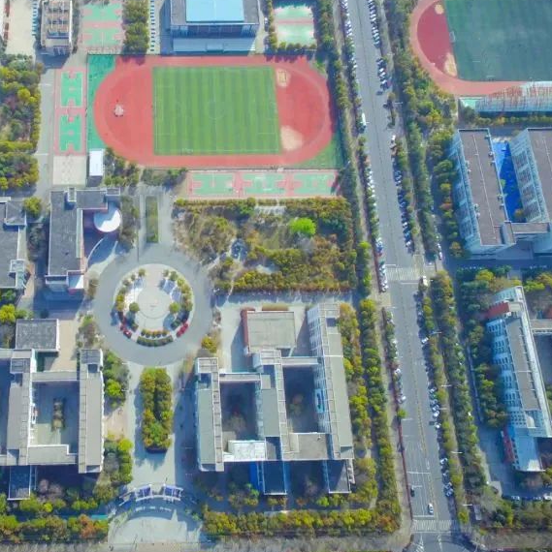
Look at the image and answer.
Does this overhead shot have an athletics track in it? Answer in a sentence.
Yes, the picture does show an athletics track.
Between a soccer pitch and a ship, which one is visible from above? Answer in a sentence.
It is a soccer pitch that can be seen here.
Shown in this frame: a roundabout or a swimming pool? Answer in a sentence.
Of the two, only a roundabout appears.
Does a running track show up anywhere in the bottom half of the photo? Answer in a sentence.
No, in the bottom half of the photo there is no running track.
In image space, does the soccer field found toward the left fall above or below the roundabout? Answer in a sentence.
Relative to the roundabout, the soccer field found toward the left lies above it.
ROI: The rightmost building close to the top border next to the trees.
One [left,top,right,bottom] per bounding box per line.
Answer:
[170,0,260,59]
